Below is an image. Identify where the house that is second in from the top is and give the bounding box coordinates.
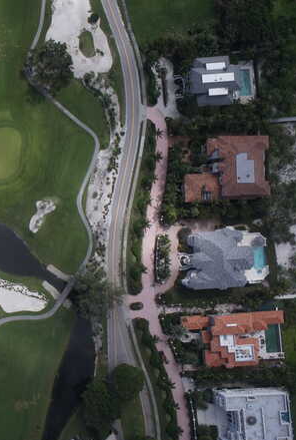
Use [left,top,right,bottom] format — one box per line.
[182,136,272,202]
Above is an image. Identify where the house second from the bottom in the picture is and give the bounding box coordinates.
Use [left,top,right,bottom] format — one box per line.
[181,311,285,369]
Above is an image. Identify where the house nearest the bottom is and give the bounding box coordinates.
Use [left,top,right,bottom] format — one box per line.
[205,384,292,440]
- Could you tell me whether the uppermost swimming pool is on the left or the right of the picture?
right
